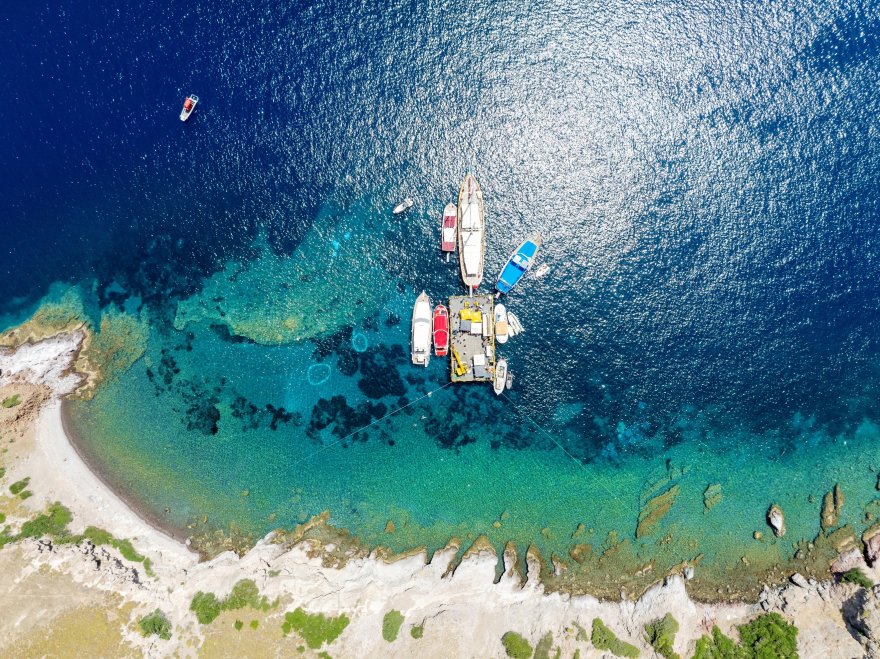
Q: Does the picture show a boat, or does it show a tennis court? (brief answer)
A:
boat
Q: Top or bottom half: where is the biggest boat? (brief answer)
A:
top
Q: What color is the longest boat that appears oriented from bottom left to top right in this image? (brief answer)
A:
blue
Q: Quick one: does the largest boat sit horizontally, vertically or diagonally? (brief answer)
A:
vertically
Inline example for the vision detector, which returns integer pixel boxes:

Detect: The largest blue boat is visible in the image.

[498,230,544,292]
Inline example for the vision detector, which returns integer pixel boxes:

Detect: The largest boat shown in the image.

[459,155,484,289]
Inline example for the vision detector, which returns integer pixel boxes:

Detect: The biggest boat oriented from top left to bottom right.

[508,312,524,334]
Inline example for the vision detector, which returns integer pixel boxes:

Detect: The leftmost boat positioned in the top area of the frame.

[180,89,199,121]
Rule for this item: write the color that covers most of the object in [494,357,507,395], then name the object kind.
white boat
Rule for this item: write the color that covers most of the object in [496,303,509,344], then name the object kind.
white boat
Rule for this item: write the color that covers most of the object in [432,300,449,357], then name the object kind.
red boat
